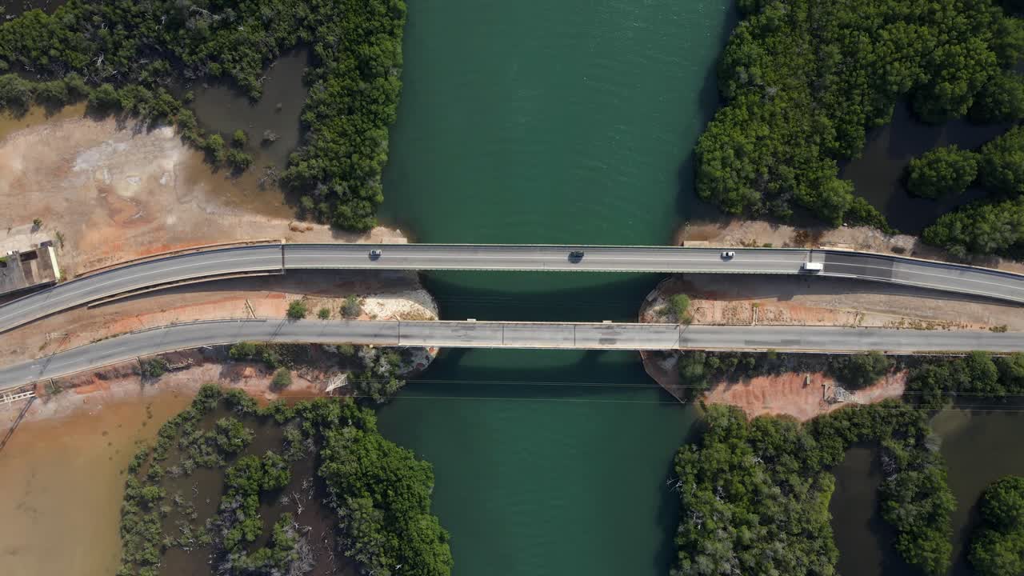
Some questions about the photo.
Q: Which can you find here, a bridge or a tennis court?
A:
bridge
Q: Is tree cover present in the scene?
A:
Yes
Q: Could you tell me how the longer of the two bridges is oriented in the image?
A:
from left to right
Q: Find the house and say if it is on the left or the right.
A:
left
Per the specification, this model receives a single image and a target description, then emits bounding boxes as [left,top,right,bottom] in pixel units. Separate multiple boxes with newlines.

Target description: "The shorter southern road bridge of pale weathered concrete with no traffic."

[399,319,680,350]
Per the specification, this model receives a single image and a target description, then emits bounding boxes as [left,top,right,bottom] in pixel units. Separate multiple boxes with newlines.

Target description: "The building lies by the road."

[0,241,59,296]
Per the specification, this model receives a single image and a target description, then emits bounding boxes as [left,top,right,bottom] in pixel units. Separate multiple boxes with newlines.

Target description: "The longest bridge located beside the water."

[283,238,814,277]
